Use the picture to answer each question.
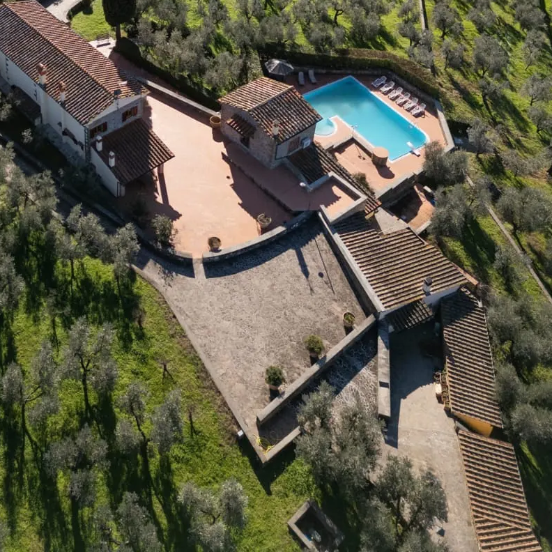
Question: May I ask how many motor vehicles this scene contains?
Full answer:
The picture shows no motor vehicles.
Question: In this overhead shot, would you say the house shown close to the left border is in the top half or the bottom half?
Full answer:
Seen from above, the house shown close to the left border lies in the top half of the view.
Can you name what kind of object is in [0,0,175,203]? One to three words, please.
house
